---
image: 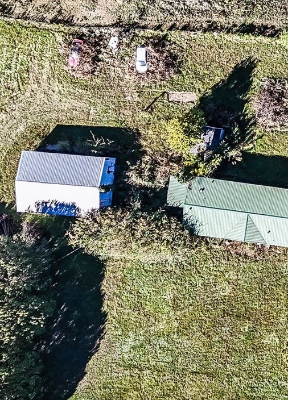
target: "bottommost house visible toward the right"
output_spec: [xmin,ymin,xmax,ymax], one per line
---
[166,175,288,245]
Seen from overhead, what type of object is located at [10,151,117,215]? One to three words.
barn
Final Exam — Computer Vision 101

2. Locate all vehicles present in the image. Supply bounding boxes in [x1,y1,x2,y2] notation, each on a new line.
[134,45,149,74]
[67,39,83,67]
